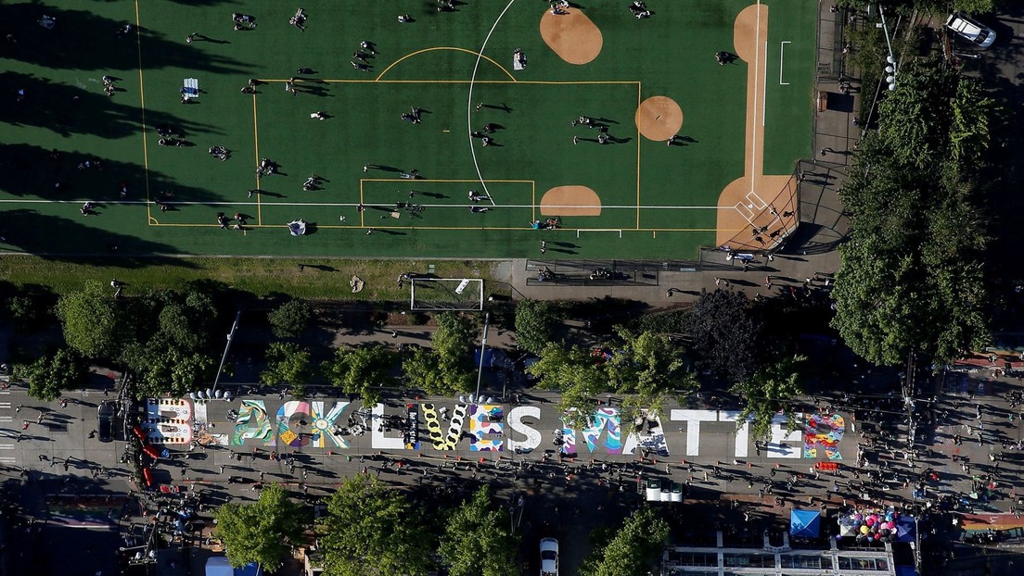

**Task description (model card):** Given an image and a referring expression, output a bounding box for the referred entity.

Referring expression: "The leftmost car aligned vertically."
[95,401,116,443]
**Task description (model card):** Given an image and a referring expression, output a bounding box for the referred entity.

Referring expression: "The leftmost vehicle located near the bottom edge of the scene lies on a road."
[538,540,560,576]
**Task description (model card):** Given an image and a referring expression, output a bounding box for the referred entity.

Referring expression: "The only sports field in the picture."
[0,0,819,262]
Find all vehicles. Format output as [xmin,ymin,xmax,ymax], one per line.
[95,401,116,443]
[538,540,560,576]
[947,14,997,47]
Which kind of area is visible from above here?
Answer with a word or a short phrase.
sports ground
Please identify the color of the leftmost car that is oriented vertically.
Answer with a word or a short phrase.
black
